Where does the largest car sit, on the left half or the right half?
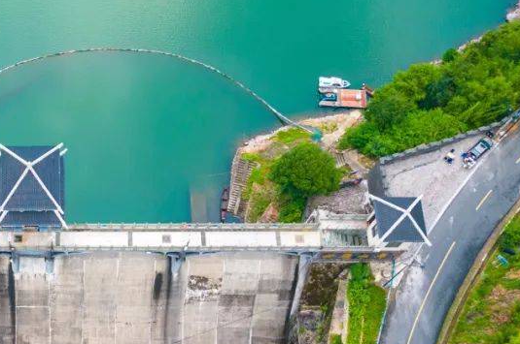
right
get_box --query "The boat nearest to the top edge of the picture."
[317,74,352,86]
